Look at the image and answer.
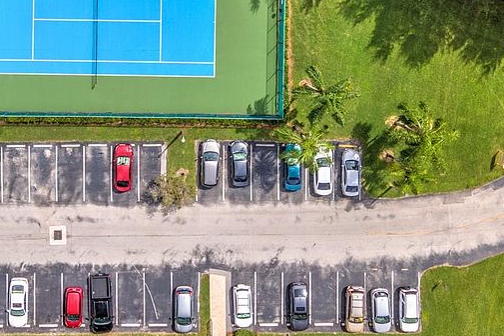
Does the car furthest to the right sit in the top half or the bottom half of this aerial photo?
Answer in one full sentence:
The car furthest to the right is in the bottom half of the image.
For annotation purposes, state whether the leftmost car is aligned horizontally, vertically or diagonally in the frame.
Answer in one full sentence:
What the image shows is the leftmost car lying vertically.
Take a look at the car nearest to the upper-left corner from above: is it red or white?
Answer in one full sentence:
The car nearest to the upper-left corner looks red in the image.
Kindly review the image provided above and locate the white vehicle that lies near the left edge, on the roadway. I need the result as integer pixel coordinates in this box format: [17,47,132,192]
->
[6,278,28,328]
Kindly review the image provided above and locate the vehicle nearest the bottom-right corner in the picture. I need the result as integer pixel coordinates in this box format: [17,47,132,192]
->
[396,285,422,334]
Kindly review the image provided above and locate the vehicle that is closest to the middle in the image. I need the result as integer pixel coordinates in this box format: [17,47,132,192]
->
[229,140,250,188]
